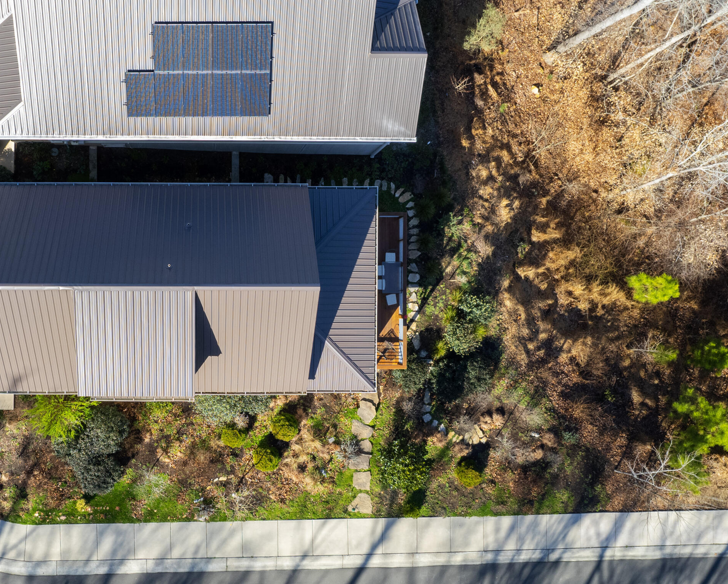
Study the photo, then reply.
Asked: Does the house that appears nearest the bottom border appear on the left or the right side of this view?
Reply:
left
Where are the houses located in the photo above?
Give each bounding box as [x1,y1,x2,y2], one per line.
[0,0,428,159]
[0,182,377,402]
